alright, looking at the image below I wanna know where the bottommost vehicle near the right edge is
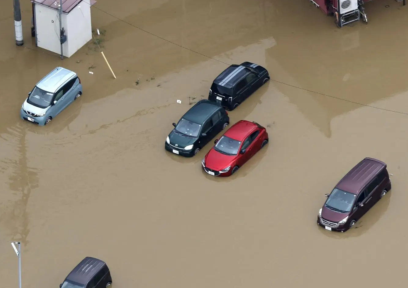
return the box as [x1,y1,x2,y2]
[317,155,394,232]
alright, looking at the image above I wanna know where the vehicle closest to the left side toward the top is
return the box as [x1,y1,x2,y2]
[19,66,81,126]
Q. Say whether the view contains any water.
Yes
